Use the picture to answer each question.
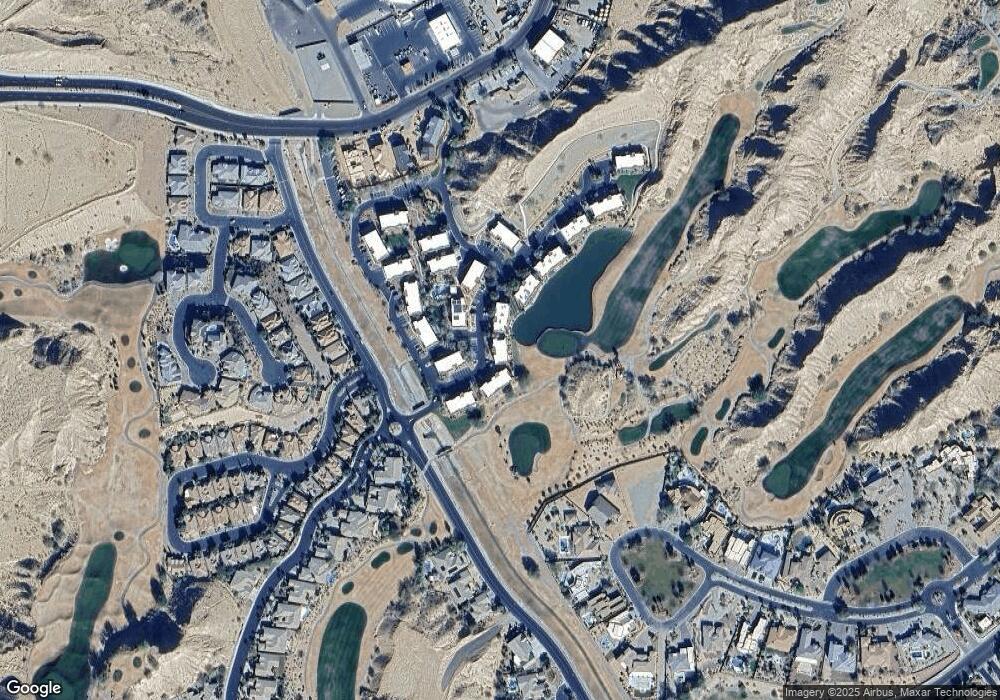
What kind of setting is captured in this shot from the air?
residential area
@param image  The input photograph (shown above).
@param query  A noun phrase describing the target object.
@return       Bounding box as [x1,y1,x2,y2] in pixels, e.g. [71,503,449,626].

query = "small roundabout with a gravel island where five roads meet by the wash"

[379,407,413,447]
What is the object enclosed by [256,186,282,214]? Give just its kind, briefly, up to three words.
house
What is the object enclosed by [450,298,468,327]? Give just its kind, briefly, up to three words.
building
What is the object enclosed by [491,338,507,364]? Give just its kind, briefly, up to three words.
building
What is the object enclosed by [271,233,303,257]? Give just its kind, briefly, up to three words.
house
